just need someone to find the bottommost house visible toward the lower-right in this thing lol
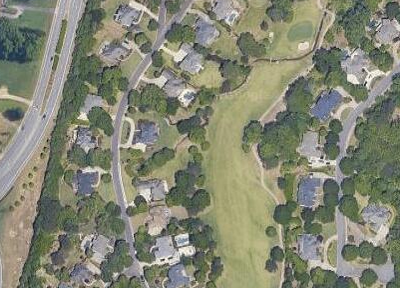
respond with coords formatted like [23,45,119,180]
[299,234,321,259]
